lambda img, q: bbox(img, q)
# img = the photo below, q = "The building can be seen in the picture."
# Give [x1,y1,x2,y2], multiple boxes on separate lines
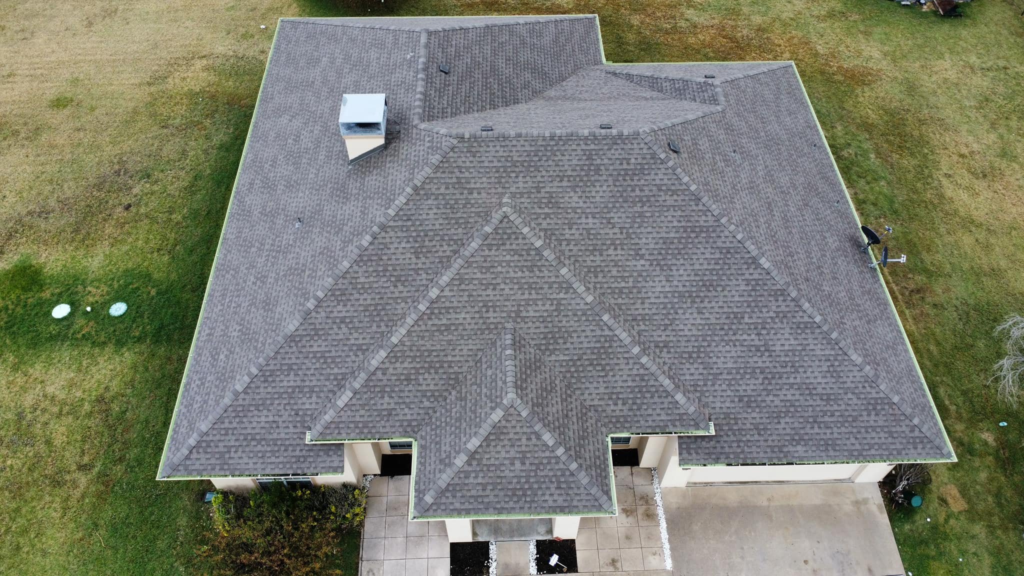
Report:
[156,14,955,543]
